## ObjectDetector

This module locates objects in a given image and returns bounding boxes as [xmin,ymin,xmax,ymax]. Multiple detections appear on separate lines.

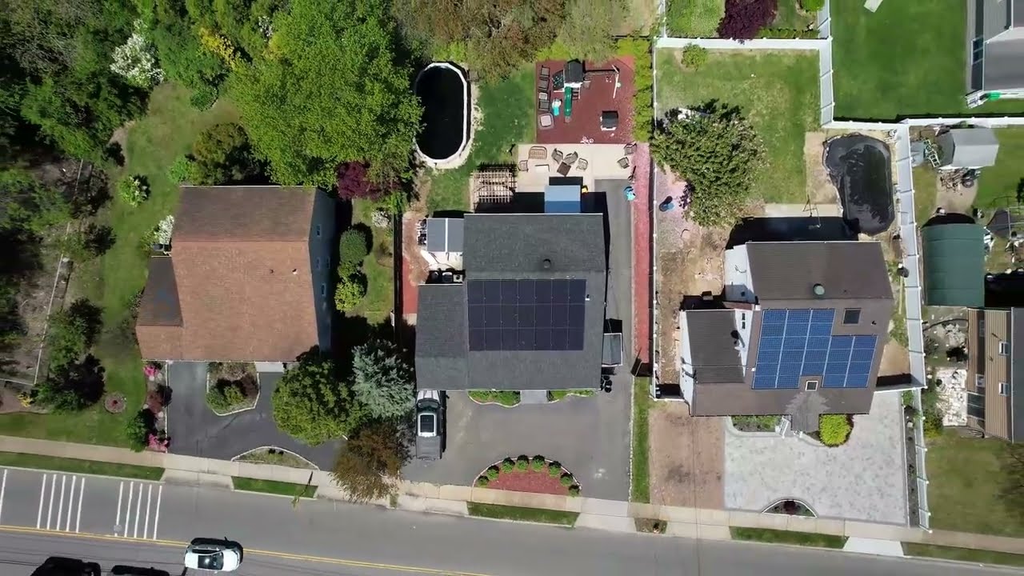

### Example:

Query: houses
[972,0,1024,95]
[966,307,1024,450]
[683,240,904,433]
[415,212,623,391]
[132,185,329,363]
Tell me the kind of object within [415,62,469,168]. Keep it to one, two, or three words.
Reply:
swimming pool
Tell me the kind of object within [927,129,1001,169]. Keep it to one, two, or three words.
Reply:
shed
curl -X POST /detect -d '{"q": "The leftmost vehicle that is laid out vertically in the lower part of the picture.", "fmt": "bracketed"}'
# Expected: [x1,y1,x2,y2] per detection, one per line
[414,391,445,460]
